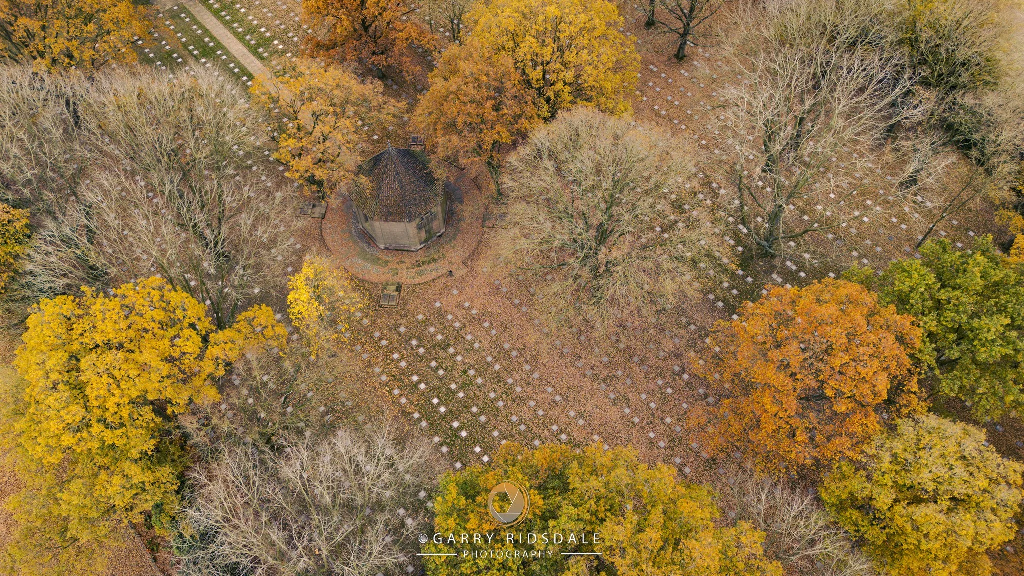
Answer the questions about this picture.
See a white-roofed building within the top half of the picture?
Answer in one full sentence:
No, no white-roofed building appears within the top half of the picture.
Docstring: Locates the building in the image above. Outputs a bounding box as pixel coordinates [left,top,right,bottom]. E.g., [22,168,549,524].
[347,139,451,252]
